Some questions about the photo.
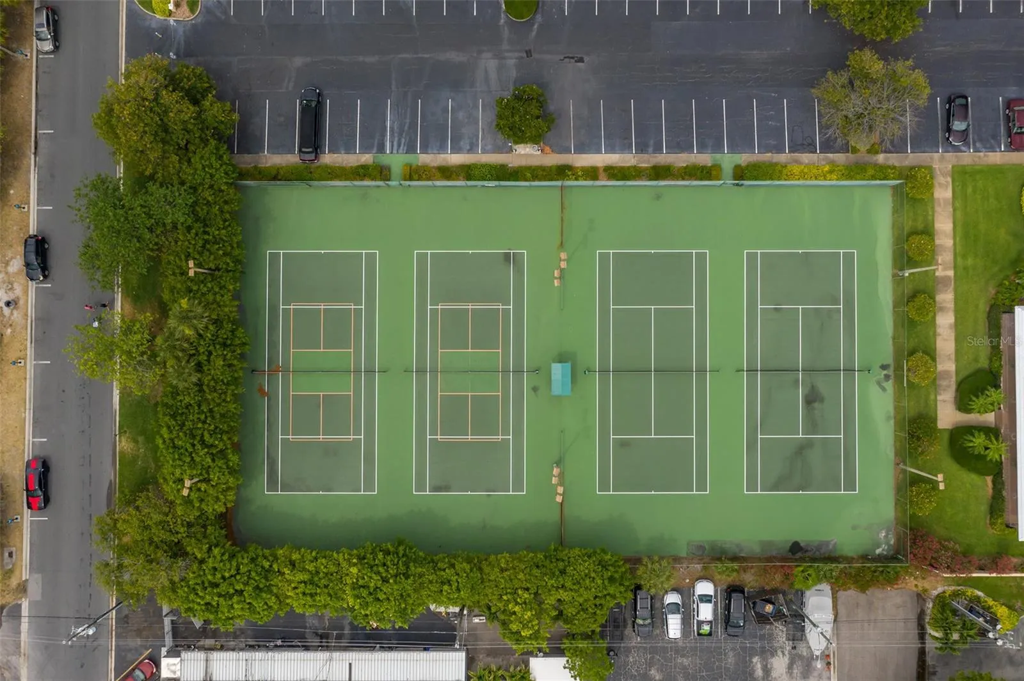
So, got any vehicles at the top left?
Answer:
Yes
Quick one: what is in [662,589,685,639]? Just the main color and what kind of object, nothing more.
white car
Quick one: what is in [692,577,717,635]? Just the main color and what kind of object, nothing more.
white truck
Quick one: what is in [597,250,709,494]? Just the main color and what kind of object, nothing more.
green tennis court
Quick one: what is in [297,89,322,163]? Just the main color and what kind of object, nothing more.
black vehicle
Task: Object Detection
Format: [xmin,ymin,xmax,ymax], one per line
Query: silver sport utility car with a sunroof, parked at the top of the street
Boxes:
[34,5,61,53]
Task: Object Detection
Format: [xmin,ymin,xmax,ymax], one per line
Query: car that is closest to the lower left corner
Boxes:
[123,661,157,681]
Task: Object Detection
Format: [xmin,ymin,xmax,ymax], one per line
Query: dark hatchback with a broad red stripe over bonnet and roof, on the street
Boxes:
[25,459,52,508]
